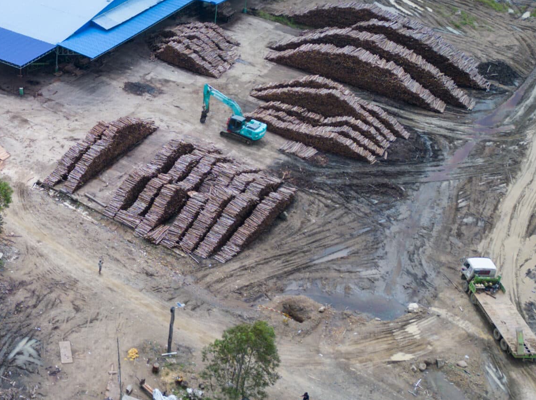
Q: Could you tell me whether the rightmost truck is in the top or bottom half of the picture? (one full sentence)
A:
It is in the bottom half that the rightmost truck appears.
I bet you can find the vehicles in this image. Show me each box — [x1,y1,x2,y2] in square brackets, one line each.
[199,80,259,144]
[457,258,536,363]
